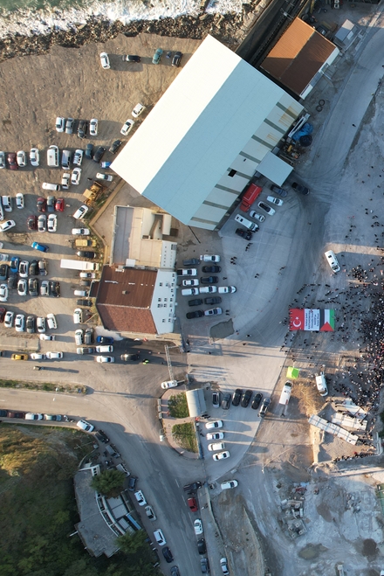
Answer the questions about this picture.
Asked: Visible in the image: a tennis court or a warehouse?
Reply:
warehouse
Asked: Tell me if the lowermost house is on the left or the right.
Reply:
left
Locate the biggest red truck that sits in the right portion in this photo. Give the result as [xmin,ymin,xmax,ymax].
[240,183,265,212]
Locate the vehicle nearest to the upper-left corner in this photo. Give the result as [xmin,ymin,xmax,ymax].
[99,52,113,71]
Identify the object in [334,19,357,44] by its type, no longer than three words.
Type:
shed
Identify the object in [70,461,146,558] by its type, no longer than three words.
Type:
house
